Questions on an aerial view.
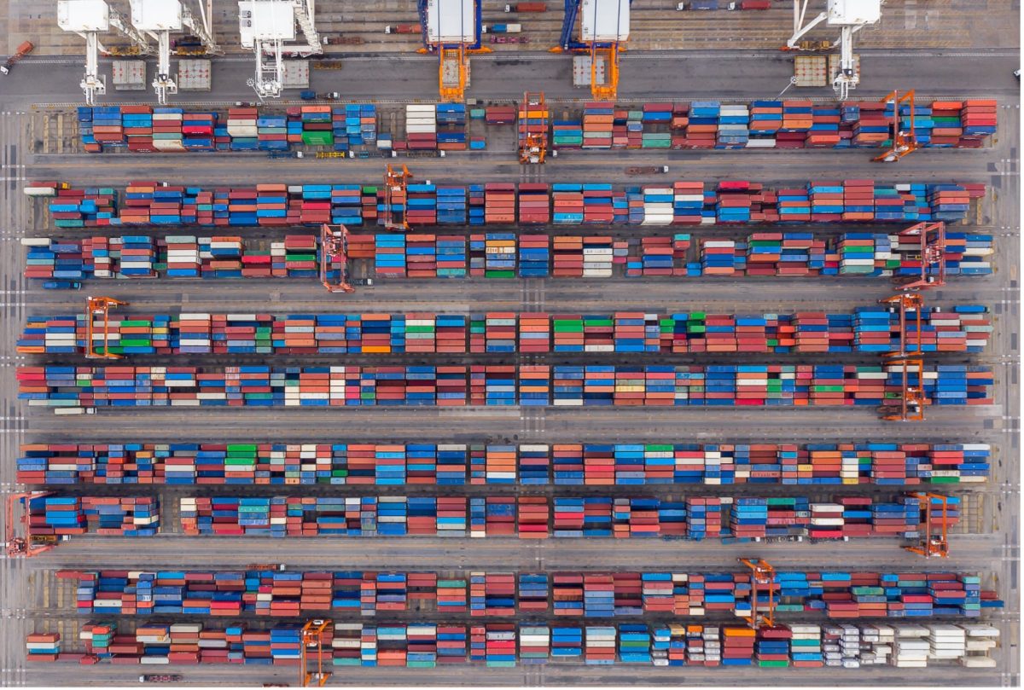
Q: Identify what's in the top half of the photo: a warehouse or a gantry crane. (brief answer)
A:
gantry crane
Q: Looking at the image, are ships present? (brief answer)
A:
No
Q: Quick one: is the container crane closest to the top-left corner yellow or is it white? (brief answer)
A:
white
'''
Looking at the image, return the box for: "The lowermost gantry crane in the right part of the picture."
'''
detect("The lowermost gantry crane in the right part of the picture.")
[734,556,774,626]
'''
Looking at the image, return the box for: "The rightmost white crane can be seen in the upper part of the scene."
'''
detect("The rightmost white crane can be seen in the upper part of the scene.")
[778,0,879,103]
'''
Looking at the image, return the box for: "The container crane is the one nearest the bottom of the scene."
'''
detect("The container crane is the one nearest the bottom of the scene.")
[301,618,338,690]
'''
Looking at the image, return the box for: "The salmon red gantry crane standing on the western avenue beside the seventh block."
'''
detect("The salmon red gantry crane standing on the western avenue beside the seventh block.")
[5,490,58,557]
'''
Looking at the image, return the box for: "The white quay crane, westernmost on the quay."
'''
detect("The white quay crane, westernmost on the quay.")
[57,0,157,106]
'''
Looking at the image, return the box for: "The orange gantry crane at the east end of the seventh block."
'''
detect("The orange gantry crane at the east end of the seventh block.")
[899,490,948,557]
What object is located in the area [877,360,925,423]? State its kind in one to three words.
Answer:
container crane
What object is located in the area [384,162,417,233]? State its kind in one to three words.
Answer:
container crane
